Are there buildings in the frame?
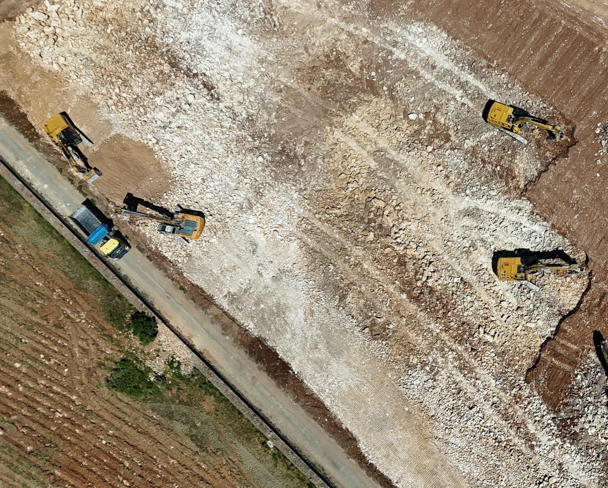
No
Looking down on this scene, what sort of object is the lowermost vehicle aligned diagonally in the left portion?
truck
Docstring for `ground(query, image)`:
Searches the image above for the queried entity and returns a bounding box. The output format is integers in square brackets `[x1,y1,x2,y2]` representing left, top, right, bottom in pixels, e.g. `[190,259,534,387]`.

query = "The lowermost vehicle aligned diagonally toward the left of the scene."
[64,201,131,260]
